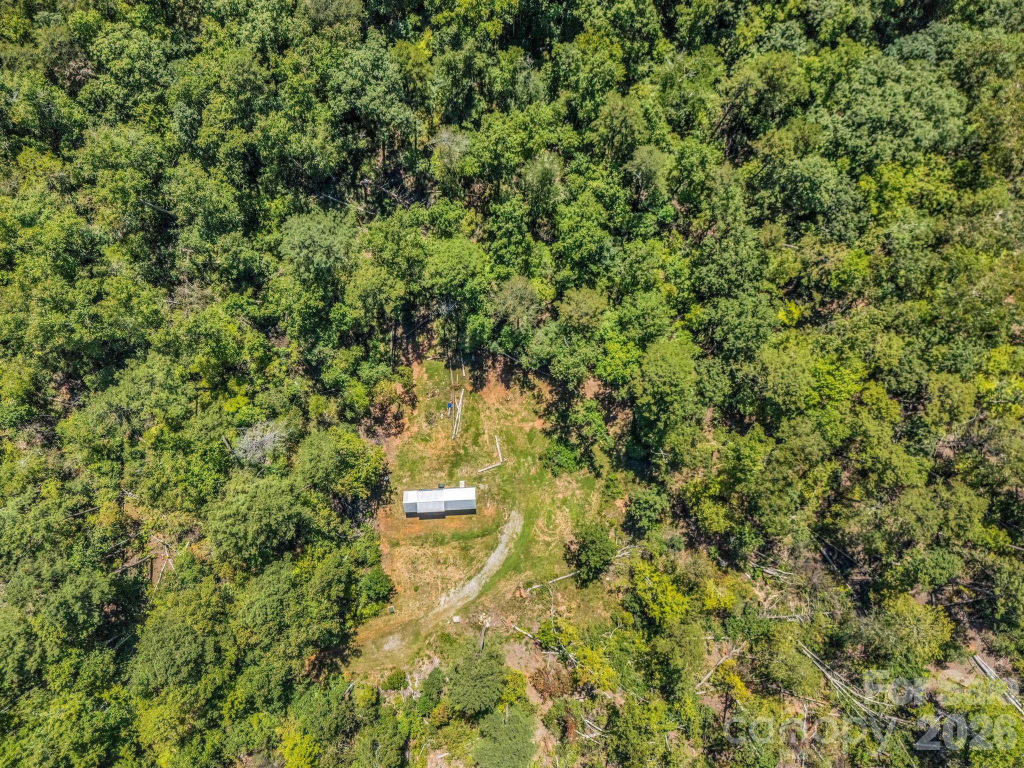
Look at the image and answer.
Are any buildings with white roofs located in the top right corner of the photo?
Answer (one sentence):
No, there is no building with a white roof in the top right corner of the photo.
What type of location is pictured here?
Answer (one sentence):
This image shows a forest.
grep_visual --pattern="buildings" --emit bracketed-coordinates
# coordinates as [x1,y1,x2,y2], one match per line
[403,487,477,514]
